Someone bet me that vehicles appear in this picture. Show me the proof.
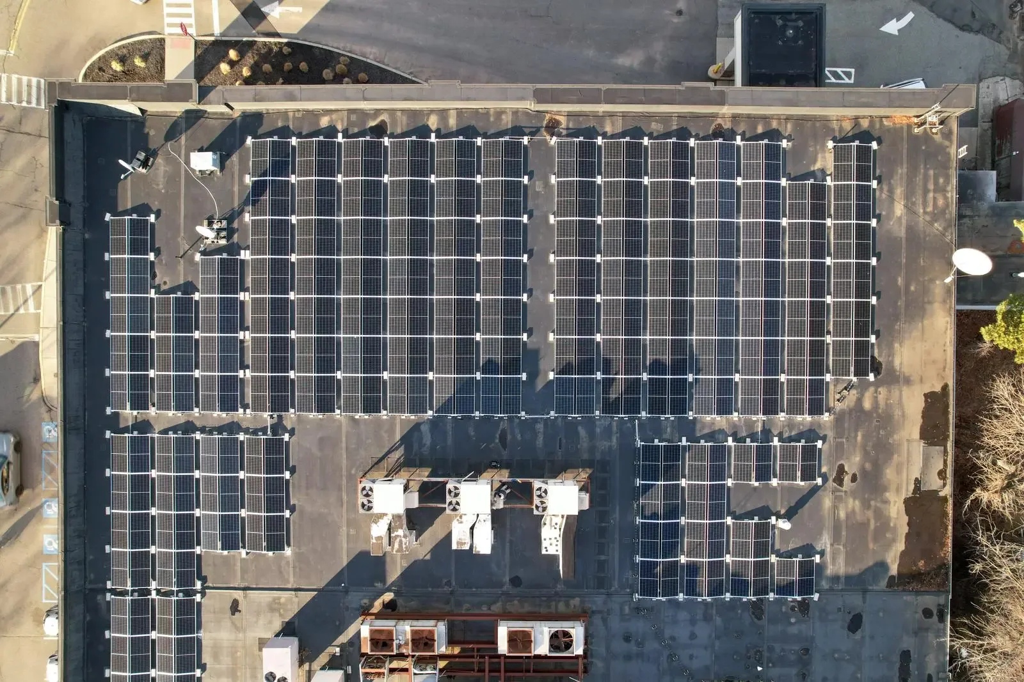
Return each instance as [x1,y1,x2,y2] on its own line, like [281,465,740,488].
[44,609,58,642]
[880,72,947,88]
[46,659,58,682]
[0,434,19,512]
